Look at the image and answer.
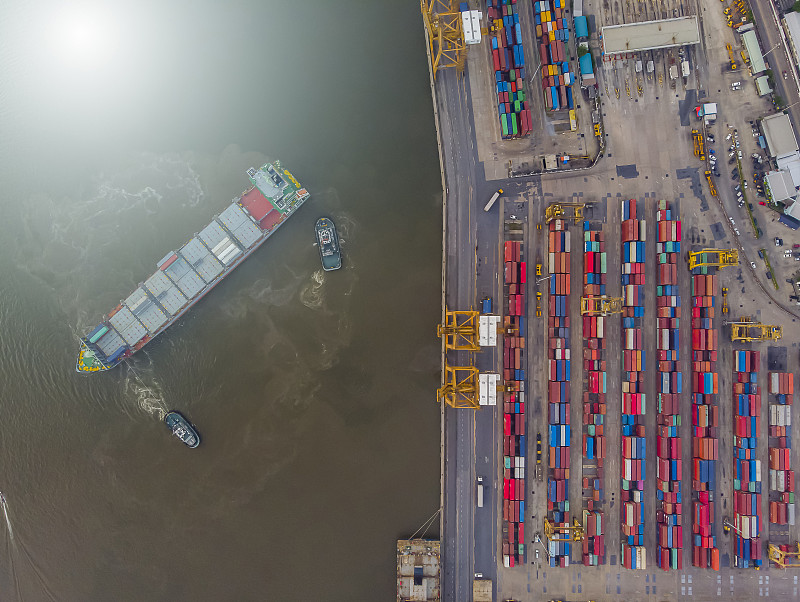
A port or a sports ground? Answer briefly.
port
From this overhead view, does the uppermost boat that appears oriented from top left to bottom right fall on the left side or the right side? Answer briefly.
left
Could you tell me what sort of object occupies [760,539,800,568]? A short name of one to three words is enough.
container crane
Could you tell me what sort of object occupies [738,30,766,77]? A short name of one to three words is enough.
shed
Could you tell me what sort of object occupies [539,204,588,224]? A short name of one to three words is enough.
container crane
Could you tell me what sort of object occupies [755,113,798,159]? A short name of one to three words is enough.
building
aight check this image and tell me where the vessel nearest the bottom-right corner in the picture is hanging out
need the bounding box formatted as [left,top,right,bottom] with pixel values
[397,537,439,602]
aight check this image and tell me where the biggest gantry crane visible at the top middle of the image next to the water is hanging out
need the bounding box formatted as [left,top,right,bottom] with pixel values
[416,1,502,81]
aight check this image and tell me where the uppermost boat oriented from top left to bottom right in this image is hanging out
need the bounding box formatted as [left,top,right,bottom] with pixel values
[165,408,202,450]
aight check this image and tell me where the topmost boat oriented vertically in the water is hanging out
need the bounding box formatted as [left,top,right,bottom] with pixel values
[314,216,342,272]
